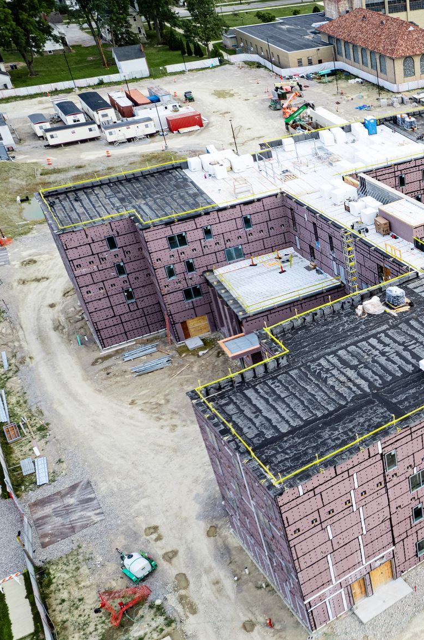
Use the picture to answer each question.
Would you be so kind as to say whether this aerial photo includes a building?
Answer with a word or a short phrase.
Yes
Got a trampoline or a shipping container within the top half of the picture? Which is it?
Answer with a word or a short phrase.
shipping container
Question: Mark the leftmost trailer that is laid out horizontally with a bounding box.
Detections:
[42,119,99,146]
